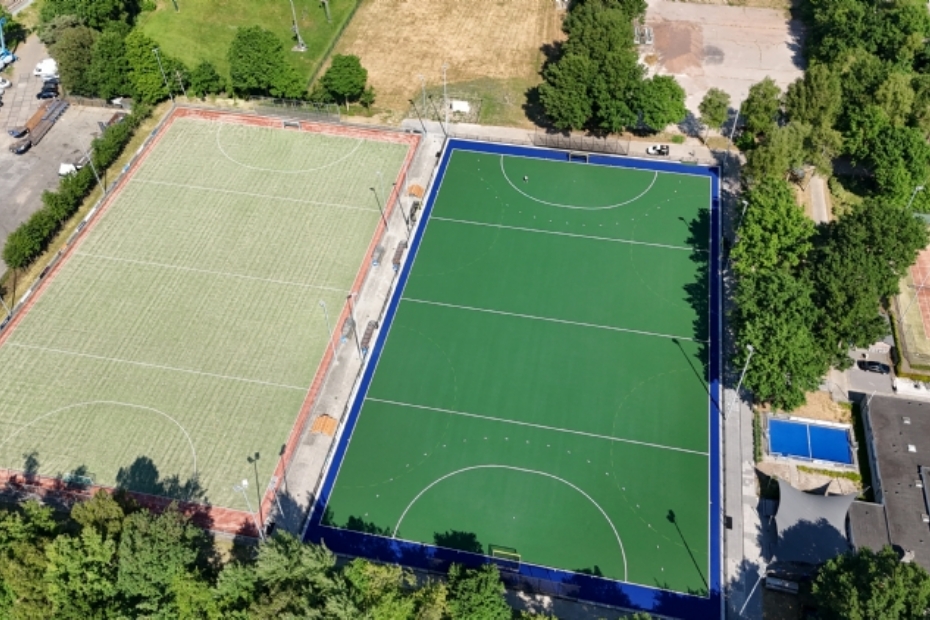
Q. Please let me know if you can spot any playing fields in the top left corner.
Yes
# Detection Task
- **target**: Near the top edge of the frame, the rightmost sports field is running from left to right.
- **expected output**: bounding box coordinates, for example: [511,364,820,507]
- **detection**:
[311,0,577,125]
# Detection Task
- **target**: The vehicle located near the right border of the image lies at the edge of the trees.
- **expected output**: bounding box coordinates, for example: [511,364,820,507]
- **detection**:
[857,355,890,374]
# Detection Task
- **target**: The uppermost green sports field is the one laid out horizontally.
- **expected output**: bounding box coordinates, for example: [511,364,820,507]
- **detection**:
[139,0,364,93]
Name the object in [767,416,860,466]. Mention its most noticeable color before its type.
blue sports court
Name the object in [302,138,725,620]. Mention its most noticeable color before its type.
green sports field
